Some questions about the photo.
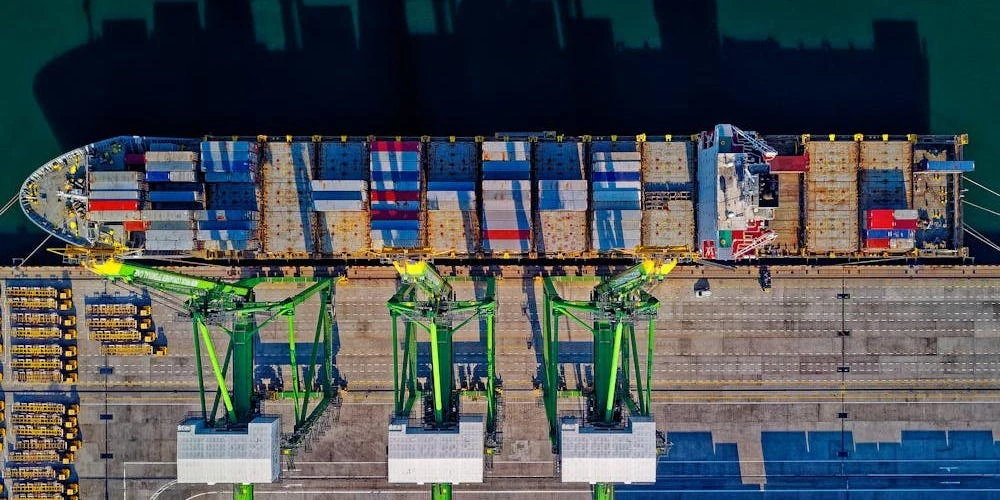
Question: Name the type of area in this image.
port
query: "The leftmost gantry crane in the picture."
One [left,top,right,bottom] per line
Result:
[43,242,350,500]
